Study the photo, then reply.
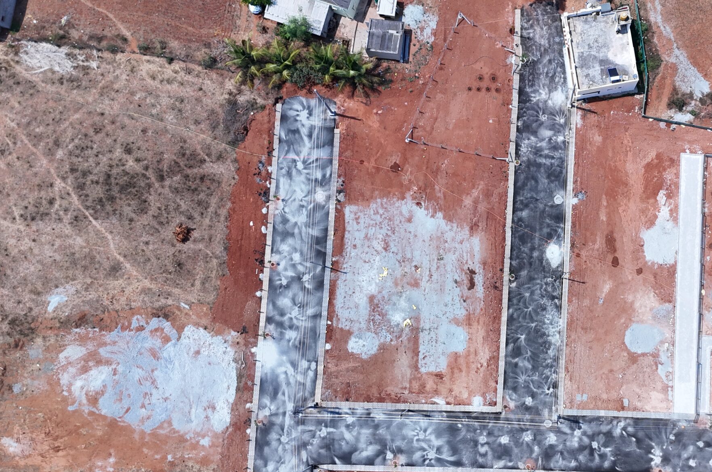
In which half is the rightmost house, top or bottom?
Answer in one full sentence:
Seen from above, the rightmost house lies in the top half of the view.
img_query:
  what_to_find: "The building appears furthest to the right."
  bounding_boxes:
[563,3,639,105]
